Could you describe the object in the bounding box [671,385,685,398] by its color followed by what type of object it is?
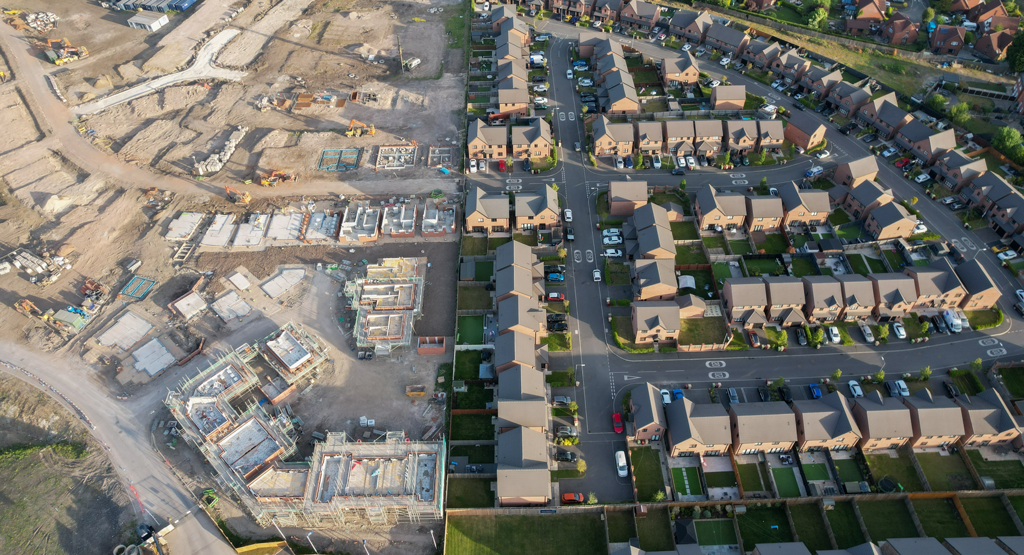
blue vehicle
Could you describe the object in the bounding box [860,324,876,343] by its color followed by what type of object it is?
gray vehicle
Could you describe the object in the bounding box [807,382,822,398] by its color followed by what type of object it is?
blue car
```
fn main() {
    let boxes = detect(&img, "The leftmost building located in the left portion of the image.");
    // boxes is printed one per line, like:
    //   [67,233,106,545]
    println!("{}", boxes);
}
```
[51,307,85,332]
